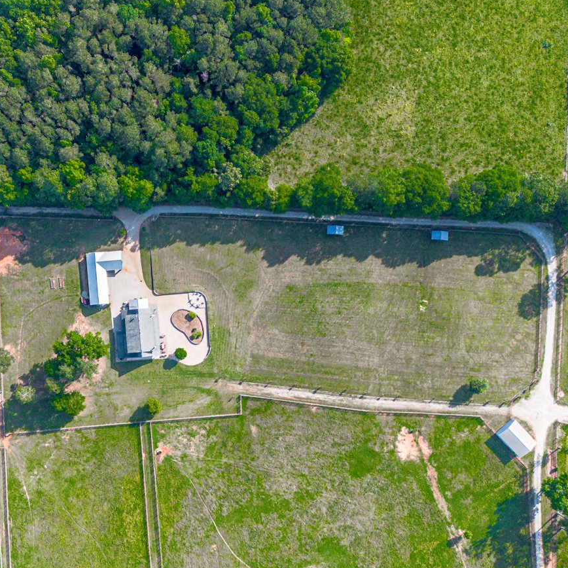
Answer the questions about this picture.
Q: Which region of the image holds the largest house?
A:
left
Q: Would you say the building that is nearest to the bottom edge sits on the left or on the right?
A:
right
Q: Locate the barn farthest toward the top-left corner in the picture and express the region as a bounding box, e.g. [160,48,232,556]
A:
[87,250,123,304]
